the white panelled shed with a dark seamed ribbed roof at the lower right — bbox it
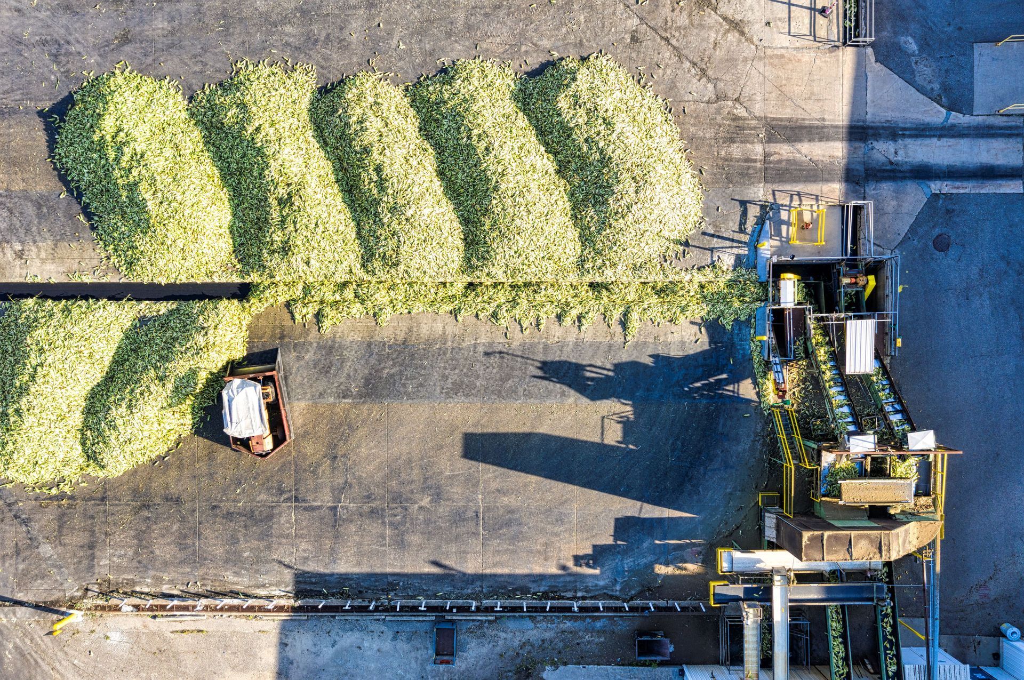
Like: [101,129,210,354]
[894,647,967,680]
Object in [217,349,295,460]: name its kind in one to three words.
work vehicle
